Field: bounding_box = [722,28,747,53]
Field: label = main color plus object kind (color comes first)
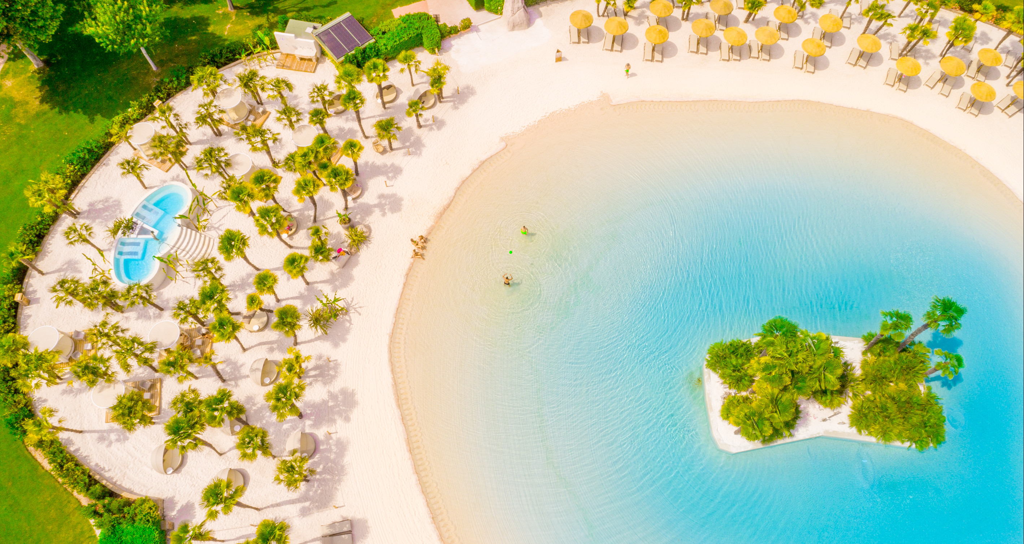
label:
yellow umbrella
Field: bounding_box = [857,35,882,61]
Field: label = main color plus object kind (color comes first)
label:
yellow umbrella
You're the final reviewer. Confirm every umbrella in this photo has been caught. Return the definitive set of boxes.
[710,0,734,22]
[969,83,997,109]
[801,39,826,65]
[754,28,779,53]
[691,20,715,45]
[976,49,1003,75]
[604,18,628,44]
[644,27,669,53]
[650,1,674,26]
[939,58,966,84]
[818,16,843,41]
[895,58,921,84]
[722,28,747,53]
[773,7,797,32]
[569,12,593,37]
[857,35,882,61]
[1010,81,1024,107]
